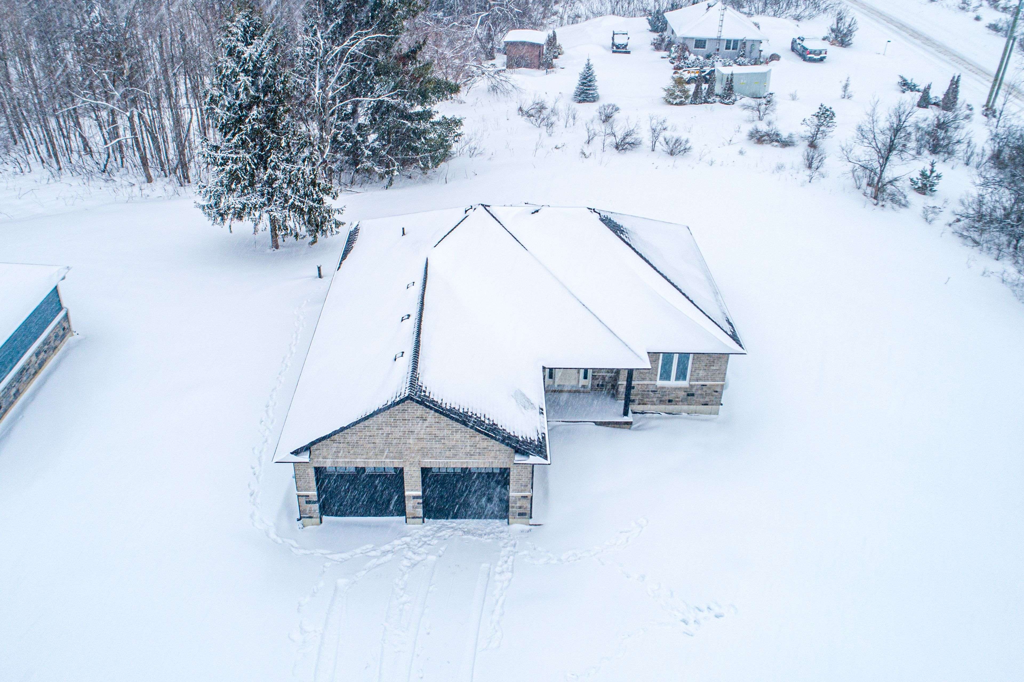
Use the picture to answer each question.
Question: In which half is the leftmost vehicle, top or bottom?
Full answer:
The leftmost vehicle sits in the top half of the picture.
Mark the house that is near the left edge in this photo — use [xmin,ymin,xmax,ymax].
[0,264,89,430]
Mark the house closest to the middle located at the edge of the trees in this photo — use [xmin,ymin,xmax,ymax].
[269,200,750,527]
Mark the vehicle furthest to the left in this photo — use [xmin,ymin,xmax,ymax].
[611,25,631,54]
